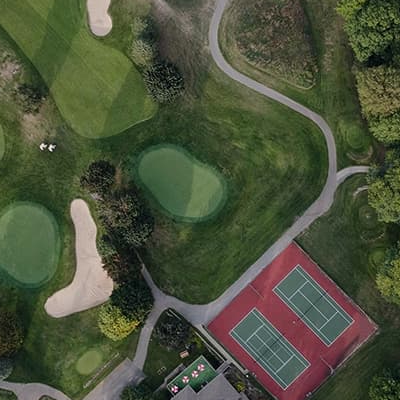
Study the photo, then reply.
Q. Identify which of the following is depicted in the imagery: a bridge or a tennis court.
tennis court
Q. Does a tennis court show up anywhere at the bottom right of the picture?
Yes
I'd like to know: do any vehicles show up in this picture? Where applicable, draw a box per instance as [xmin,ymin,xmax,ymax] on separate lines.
[40,143,48,151]
[49,144,57,152]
